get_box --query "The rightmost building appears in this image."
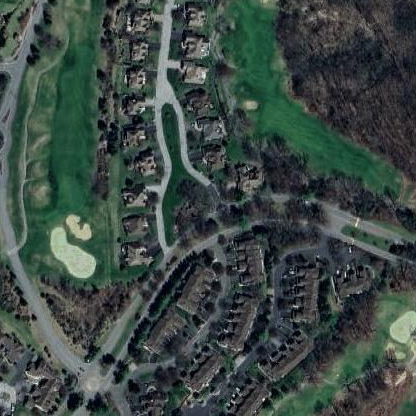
[238,163,266,190]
